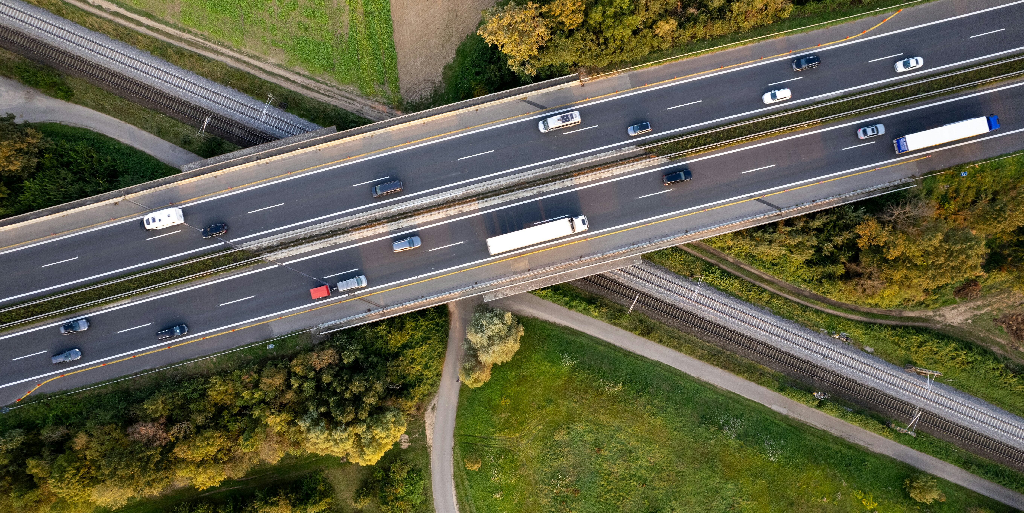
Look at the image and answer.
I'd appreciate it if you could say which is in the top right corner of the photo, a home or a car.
car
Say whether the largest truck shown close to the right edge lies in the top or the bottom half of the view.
top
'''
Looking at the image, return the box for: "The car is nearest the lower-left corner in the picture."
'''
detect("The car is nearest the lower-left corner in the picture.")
[52,348,83,365]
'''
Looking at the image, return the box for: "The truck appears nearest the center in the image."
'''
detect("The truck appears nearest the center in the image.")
[486,213,589,254]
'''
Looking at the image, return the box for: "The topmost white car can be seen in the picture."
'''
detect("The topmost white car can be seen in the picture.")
[892,56,924,73]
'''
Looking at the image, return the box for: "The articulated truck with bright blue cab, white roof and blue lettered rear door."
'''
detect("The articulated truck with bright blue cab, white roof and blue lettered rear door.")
[891,114,1000,154]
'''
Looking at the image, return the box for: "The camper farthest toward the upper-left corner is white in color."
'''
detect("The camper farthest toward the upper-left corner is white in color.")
[139,208,185,232]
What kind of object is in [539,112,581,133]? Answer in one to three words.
vehicle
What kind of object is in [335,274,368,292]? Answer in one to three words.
vehicle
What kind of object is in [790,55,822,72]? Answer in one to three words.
car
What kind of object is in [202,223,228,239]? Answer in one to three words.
car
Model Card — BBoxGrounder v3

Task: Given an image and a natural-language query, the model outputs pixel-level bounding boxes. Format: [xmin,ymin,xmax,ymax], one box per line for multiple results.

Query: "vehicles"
[60,319,91,335]
[891,114,1000,154]
[661,169,692,186]
[52,348,83,365]
[202,223,228,239]
[626,121,652,137]
[391,236,421,252]
[761,88,792,104]
[371,180,403,197]
[539,112,581,133]
[335,274,368,292]
[139,208,185,232]
[855,123,885,139]
[892,56,924,73]
[486,213,589,254]
[157,324,189,341]
[790,55,822,72]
